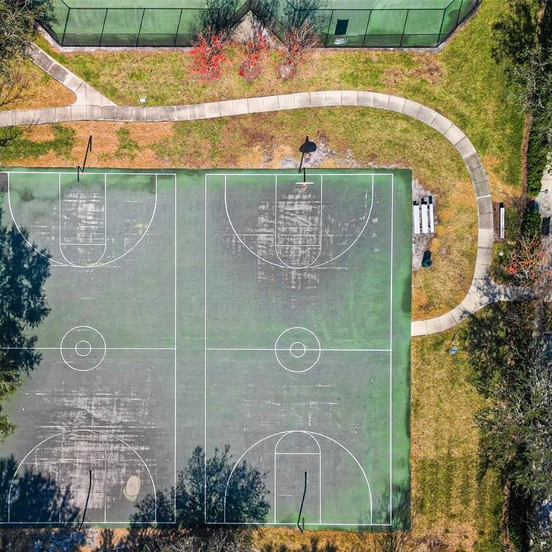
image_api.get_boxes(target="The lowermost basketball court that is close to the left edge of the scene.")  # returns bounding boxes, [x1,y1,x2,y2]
[0,168,190,531]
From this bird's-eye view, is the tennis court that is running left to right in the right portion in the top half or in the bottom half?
top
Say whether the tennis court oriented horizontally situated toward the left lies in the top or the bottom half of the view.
top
